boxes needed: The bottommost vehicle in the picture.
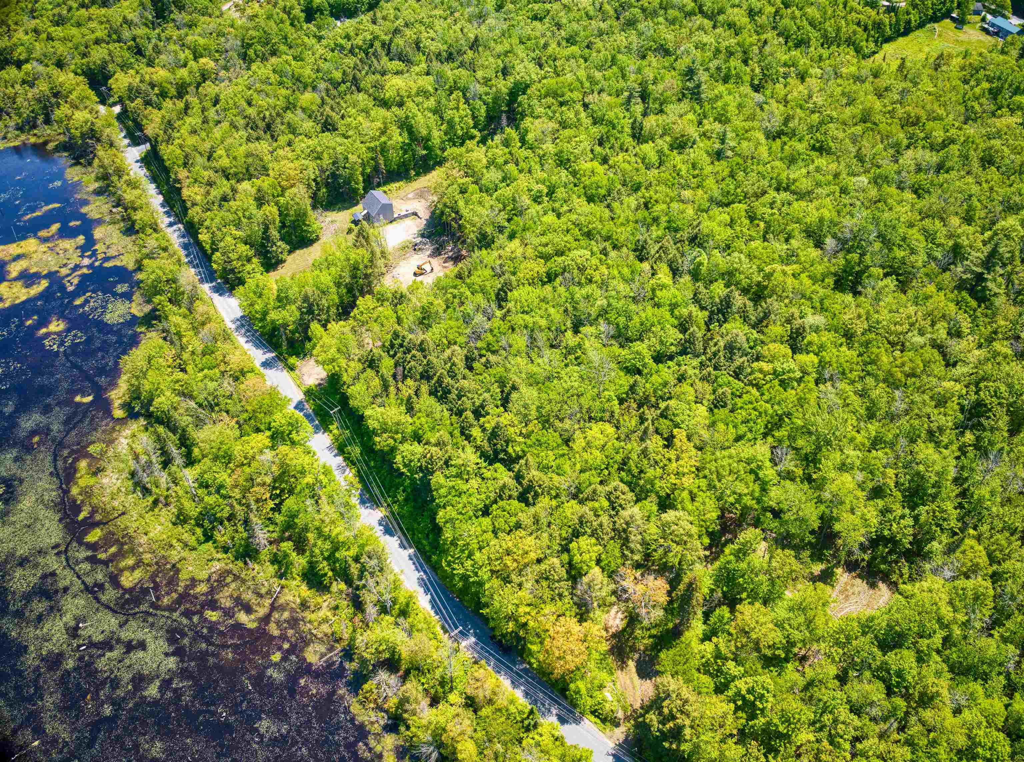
[413,262,433,274]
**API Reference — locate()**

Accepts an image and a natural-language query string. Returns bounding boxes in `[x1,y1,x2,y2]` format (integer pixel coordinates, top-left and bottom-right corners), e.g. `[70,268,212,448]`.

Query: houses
[985,15,1024,39]
[360,189,395,227]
